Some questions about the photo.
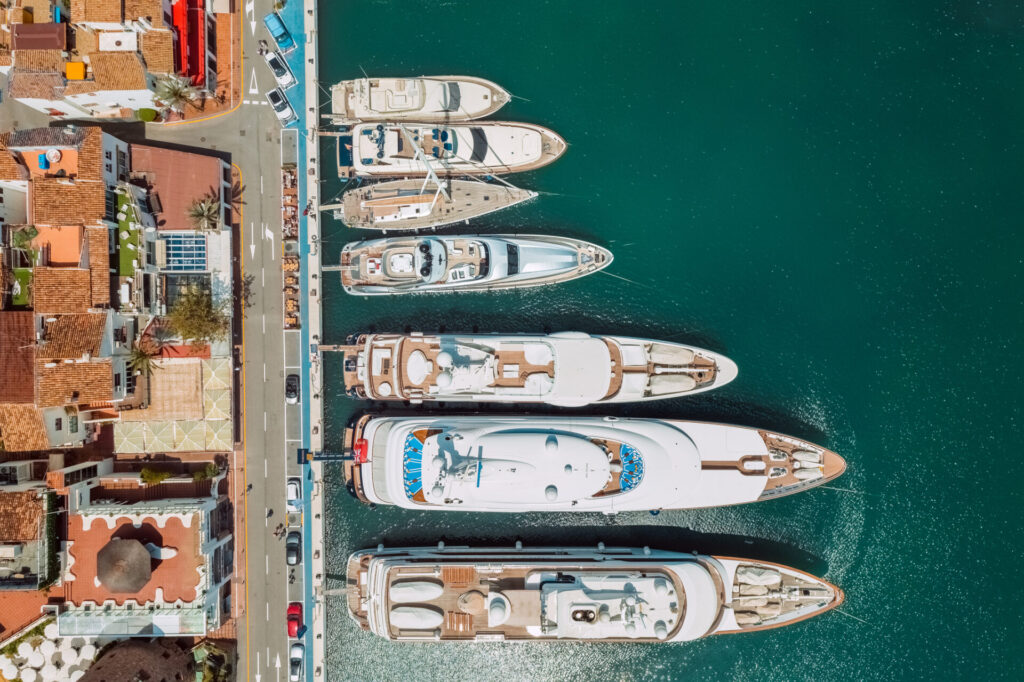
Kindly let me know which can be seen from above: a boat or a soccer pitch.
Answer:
boat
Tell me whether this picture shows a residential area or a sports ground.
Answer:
residential area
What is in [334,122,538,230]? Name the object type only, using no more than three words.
boat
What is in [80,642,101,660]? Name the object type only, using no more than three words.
umbrella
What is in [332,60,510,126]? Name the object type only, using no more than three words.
boat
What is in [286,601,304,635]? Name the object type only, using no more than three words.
car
